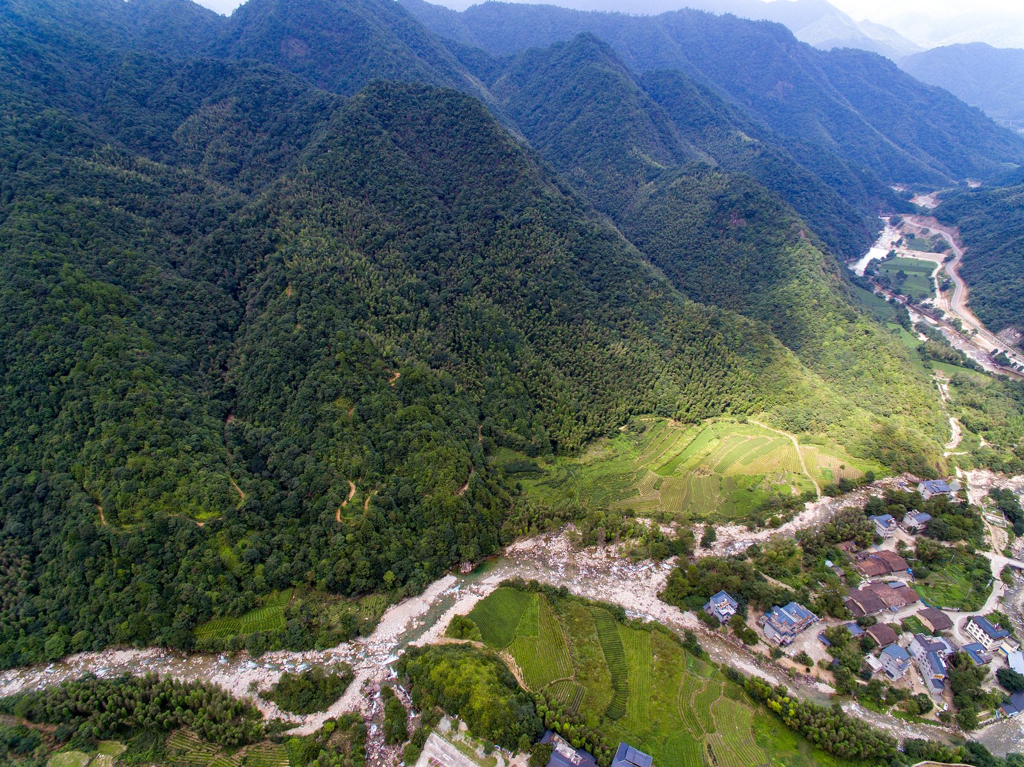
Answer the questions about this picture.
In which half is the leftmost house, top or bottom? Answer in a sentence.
The leftmost house sits in the bottom half of the picture.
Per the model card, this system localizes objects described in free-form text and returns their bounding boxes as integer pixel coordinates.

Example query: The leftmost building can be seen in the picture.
[532,726,596,767]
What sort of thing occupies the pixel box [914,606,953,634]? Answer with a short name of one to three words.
house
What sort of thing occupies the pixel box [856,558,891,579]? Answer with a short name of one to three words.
house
